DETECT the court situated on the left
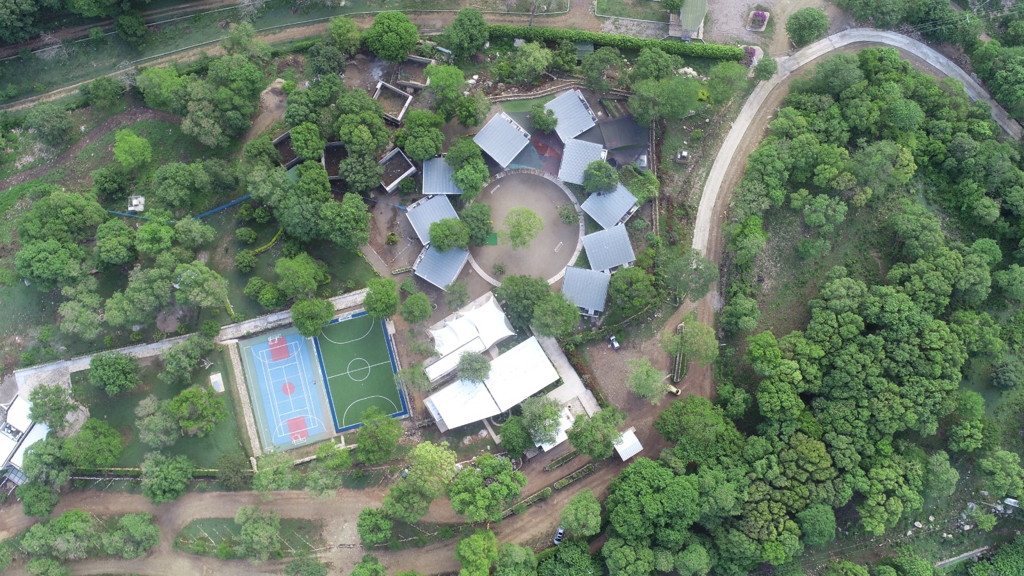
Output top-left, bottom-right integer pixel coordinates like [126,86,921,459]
[239,326,335,452]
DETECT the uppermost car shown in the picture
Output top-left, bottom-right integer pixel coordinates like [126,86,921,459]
[610,336,622,350]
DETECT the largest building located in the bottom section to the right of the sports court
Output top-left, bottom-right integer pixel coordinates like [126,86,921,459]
[423,336,560,433]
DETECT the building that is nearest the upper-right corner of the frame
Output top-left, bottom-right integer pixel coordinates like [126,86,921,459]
[679,0,709,42]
